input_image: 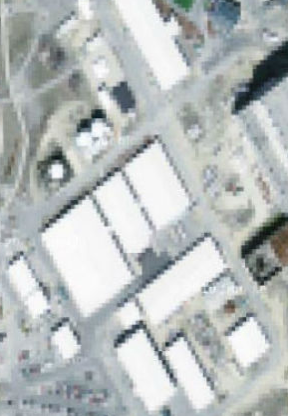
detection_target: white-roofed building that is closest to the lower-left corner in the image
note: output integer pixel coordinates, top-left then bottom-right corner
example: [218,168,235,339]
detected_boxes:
[52,323,80,360]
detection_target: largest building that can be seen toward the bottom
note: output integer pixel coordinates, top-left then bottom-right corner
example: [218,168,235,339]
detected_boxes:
[40,196,135,319]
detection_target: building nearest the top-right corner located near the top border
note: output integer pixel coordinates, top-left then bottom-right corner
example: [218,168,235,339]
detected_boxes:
[210,0,239,30]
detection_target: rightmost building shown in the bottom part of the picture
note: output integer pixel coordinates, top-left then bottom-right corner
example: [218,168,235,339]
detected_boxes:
[227,317,271,369]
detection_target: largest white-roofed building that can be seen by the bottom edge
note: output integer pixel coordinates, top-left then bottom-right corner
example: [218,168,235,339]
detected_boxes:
[116,330,177,412]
